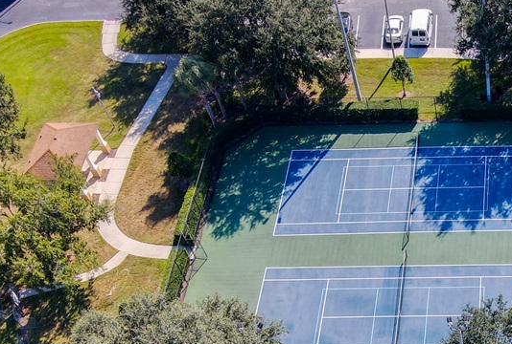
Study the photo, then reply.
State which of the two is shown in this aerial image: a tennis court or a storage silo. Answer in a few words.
tennis court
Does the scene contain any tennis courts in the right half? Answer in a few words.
Yes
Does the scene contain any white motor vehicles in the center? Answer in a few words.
No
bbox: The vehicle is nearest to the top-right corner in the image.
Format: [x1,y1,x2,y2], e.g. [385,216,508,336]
[410,2,432,40]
